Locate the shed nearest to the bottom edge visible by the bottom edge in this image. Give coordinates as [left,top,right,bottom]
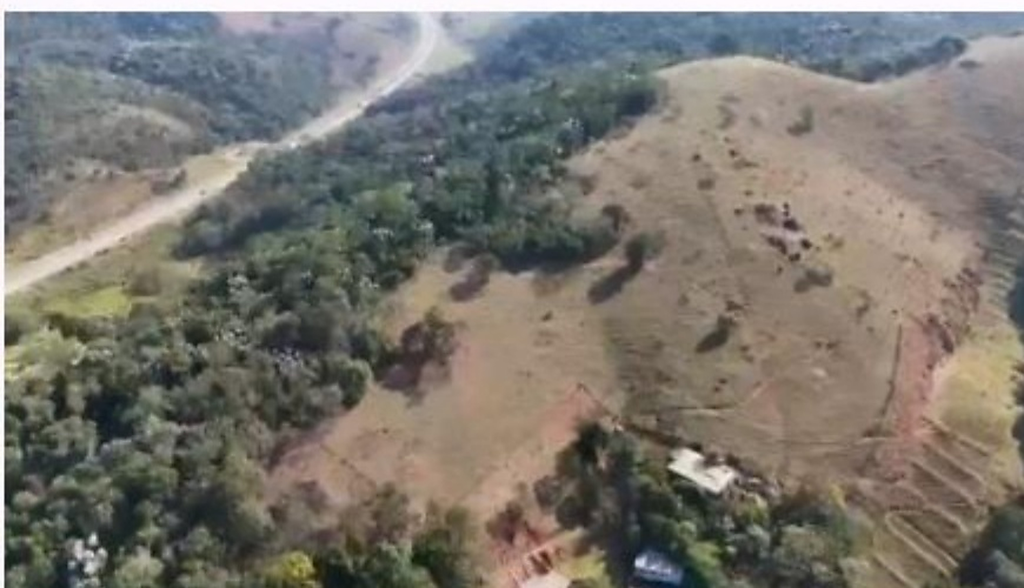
[636,548,686,588]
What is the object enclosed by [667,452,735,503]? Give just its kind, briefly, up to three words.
house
